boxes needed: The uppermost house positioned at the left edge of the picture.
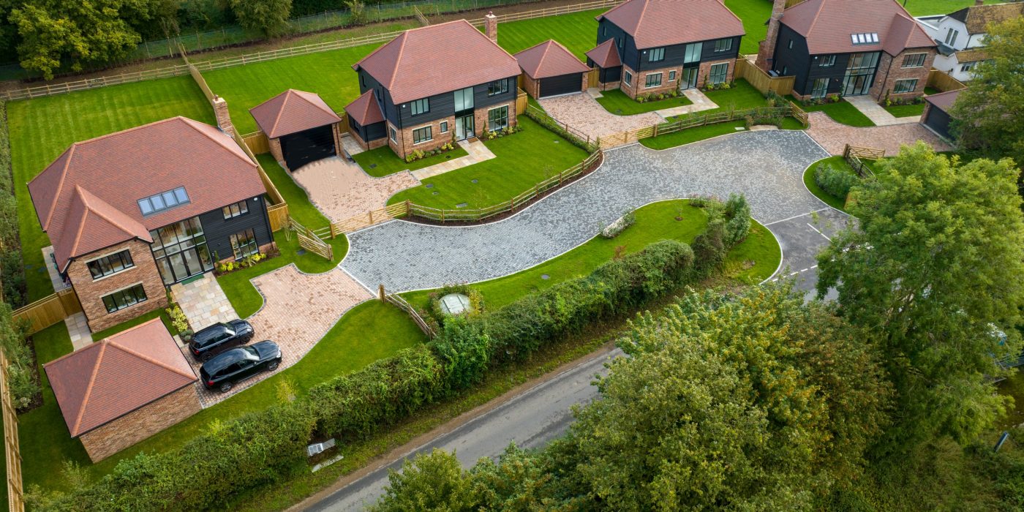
[25,92,275,332]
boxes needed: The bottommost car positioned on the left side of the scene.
[197,340,283,395]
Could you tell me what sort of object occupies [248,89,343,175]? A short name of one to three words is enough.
building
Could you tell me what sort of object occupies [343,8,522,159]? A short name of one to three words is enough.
house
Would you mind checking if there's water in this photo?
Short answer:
No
